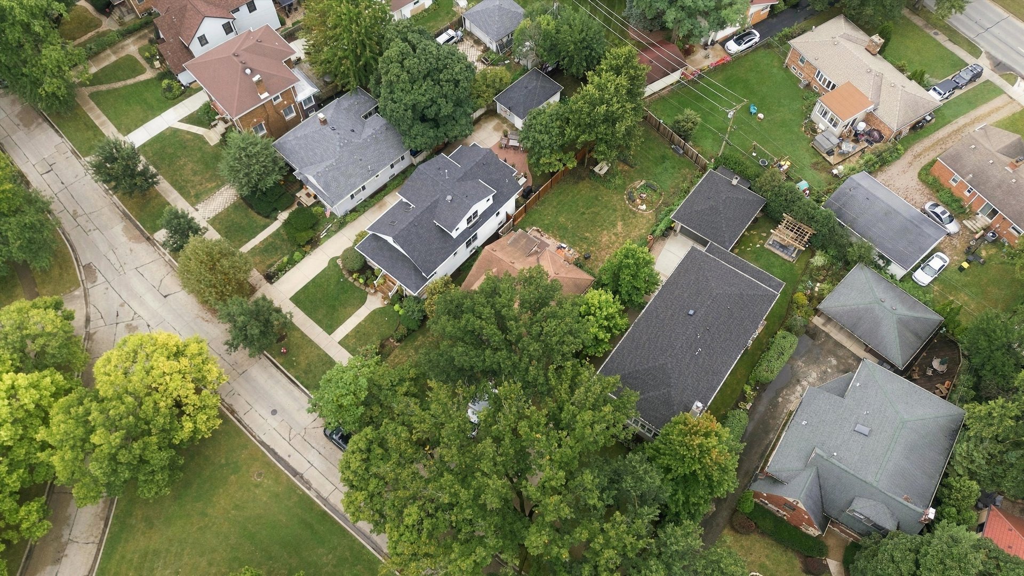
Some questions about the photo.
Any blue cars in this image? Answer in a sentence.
No, I find no blue car anywhere in the image.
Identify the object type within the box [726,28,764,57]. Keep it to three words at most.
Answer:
car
